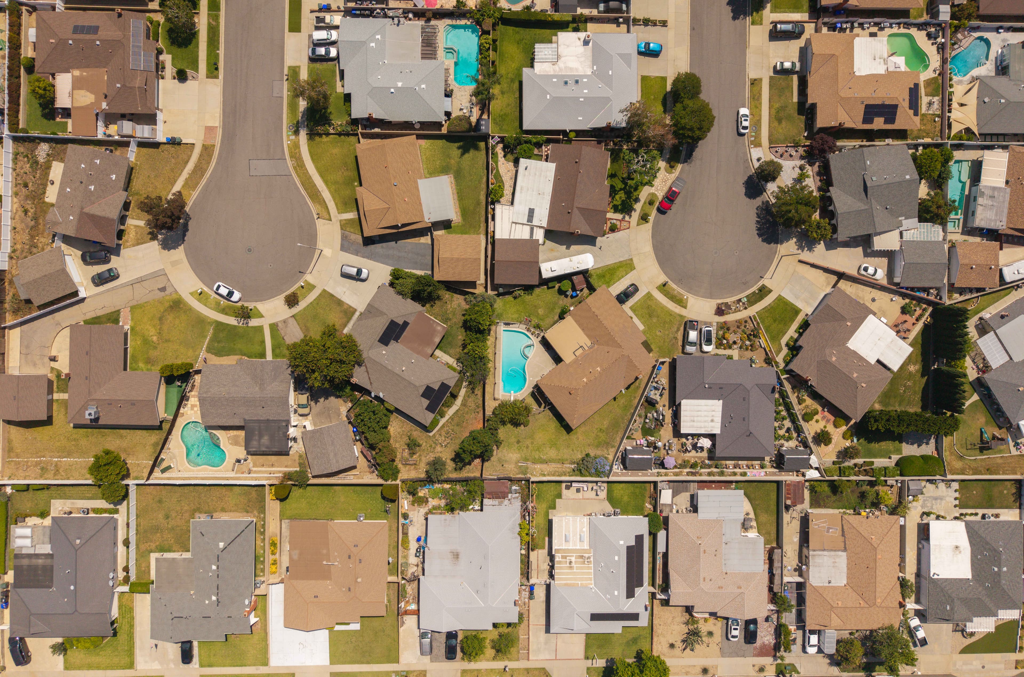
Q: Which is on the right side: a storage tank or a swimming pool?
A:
swimming pool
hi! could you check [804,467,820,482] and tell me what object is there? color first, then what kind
white umbrella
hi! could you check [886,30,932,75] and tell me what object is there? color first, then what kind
green swimming pool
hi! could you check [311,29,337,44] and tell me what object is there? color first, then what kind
white car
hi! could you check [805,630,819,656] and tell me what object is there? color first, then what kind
white vehicle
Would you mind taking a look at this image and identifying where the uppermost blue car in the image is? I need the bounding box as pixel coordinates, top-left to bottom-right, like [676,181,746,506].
[638,42,662,56]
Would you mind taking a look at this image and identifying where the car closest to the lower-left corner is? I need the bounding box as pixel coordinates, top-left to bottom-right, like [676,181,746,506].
[11,637,30,667]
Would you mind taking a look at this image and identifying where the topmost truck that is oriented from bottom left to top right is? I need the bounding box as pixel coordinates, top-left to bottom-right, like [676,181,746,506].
[658,176,686,213]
